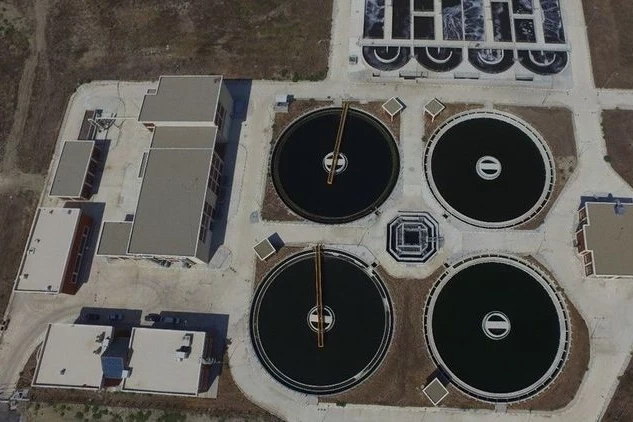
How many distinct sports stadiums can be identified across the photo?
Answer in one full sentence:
The count of sports stadiums is 0.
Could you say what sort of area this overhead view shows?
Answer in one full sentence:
The picture captures an industrial area.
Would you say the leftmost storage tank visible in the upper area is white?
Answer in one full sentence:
No, the leftmost storage tank visible in the upper area is actually black.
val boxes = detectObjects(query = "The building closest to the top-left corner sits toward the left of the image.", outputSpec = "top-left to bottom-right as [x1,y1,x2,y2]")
[49,141,98,201]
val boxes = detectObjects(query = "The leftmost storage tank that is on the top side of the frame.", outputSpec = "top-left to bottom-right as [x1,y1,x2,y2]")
[270,99,399,226]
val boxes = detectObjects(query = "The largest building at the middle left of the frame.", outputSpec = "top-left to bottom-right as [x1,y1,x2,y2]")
[97,76,234,267]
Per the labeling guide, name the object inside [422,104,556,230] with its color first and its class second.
black storage tank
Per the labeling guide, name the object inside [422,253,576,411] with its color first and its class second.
black storage tank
